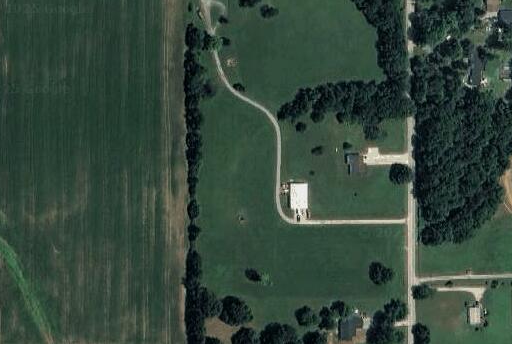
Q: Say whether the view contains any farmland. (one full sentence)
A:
Yes, the picture does contain farmland.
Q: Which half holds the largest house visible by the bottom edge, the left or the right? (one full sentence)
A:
It is on the right.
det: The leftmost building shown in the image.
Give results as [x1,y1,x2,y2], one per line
[290,183,308,209]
